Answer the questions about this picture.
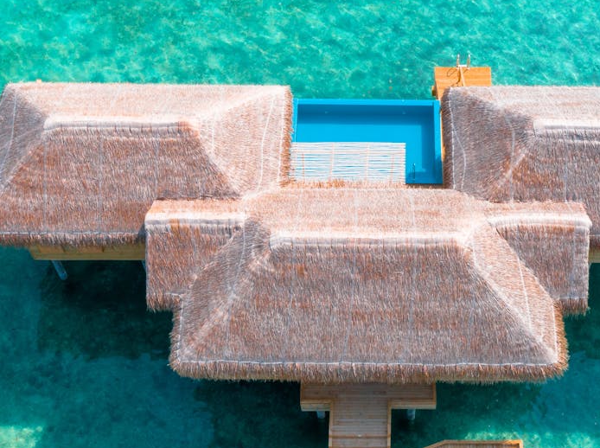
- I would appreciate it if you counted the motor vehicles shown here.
0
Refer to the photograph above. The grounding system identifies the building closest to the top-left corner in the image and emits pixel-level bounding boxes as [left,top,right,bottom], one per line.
[0,82,297,293]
